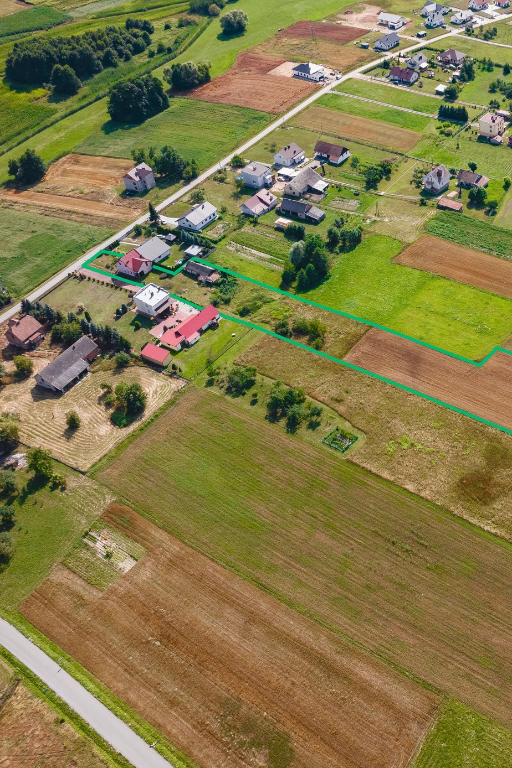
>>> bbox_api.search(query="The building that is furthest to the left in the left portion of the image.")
[4,315,47,346]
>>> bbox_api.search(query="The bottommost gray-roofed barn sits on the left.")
[32,335,102,396]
